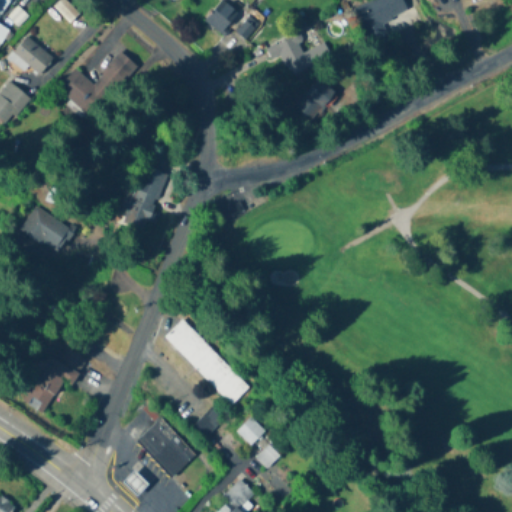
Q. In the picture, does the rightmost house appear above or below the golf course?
above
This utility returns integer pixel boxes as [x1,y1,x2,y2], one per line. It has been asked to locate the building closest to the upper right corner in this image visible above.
[354,0,414,34]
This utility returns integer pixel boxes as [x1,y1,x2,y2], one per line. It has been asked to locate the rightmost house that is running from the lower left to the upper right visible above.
[302,88,336,116]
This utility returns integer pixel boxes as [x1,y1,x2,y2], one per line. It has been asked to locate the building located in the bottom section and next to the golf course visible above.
[166,320,250,403]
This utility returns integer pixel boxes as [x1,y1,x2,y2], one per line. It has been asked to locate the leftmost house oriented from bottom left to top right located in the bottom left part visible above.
[26,370,78,412]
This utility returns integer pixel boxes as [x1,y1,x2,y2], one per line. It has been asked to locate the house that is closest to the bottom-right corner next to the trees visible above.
[256,444,282,470]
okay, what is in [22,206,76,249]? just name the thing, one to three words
house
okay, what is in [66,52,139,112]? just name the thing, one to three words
house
